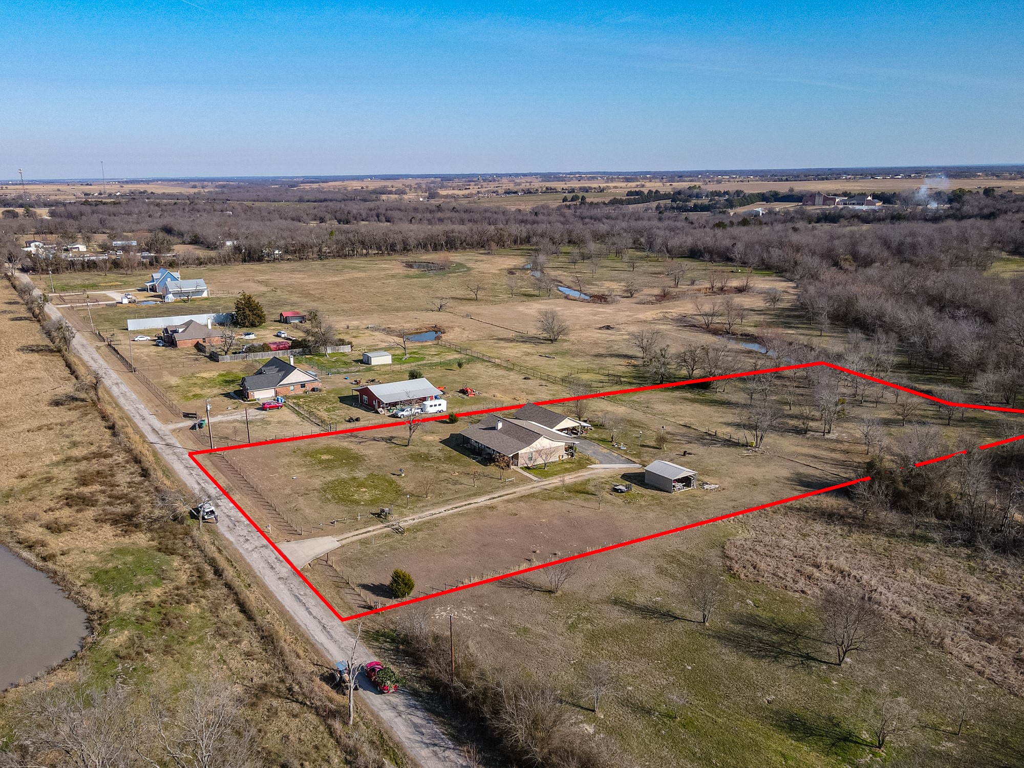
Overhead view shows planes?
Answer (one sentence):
No, I find no plane anywhere in the image.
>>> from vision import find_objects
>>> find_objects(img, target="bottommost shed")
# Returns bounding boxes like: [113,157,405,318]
[644,459,697,494]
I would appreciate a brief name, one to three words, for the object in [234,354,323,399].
house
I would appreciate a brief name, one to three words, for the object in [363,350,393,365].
shed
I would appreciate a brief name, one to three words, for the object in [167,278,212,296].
barn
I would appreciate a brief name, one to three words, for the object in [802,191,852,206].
building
